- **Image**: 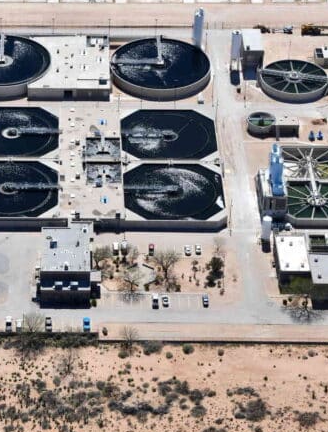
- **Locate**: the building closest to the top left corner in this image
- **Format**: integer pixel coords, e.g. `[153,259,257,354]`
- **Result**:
[22,34,110,97]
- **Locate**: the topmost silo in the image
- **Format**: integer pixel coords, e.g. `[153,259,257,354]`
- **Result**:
[192,7,206,48]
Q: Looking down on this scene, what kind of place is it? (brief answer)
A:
industrial area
